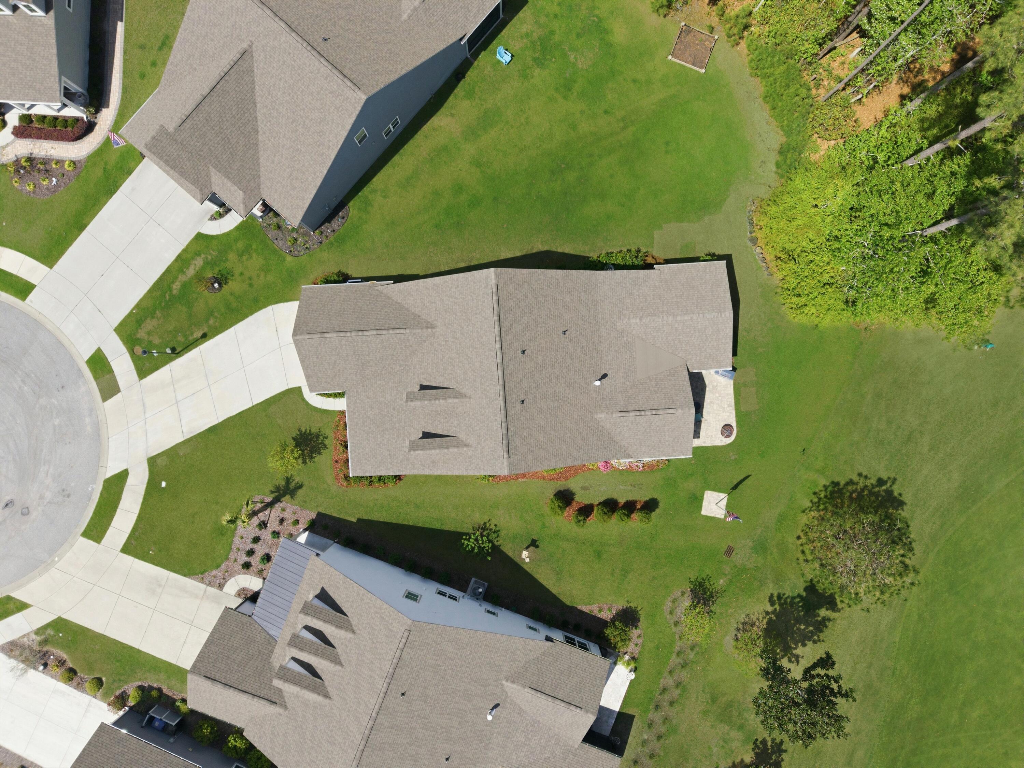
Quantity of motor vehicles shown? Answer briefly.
0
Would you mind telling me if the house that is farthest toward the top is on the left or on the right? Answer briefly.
left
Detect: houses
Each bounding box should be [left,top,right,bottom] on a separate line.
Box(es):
[186,529,623,768]
[0,0,91,116]
[117,0,517,237]
[72,708,254,768]
[293,259,733,476]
